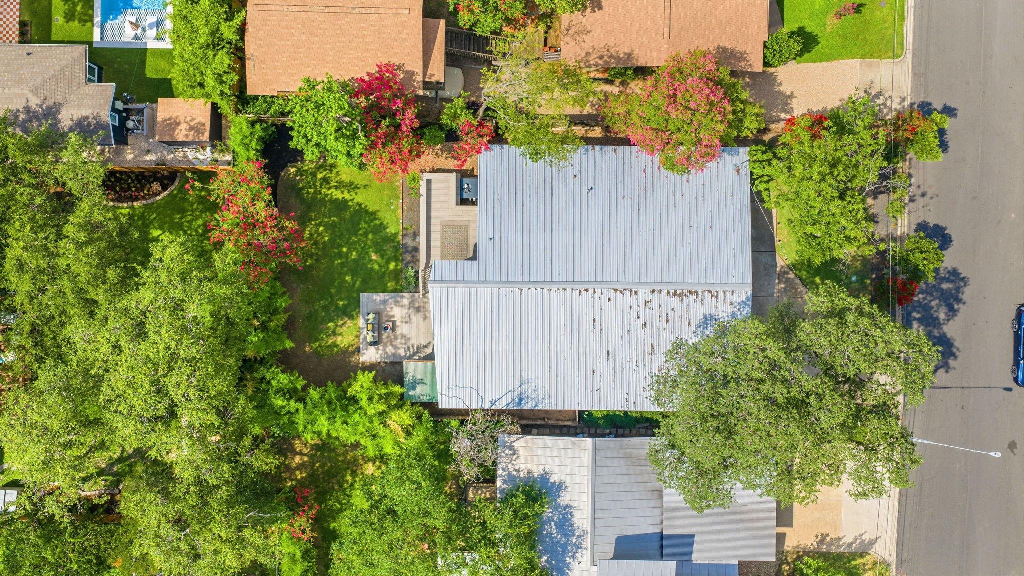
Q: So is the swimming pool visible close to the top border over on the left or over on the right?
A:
left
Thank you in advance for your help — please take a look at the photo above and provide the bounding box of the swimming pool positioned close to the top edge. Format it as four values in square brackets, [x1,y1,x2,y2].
[94,0,173,49]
